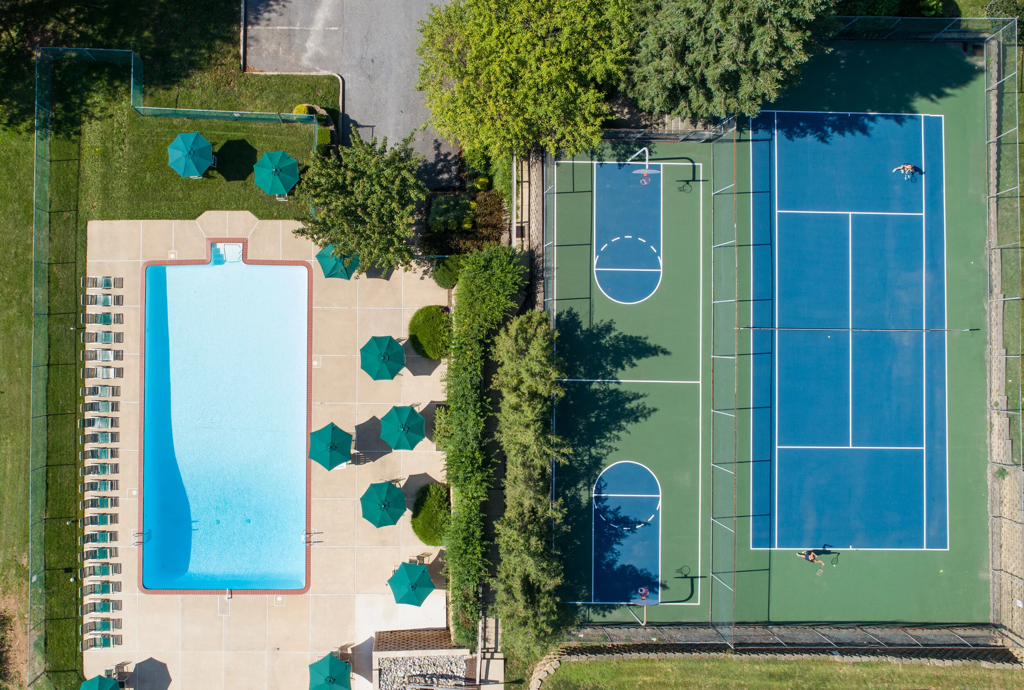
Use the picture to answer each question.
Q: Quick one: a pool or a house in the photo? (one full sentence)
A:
The one in the frame is a pool.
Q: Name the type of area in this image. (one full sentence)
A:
This image shows a sports ground.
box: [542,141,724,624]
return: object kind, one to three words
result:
basketball court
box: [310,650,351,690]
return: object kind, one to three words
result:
umbrella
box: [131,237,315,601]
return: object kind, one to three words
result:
swimming pool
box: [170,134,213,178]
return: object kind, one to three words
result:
umbrella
